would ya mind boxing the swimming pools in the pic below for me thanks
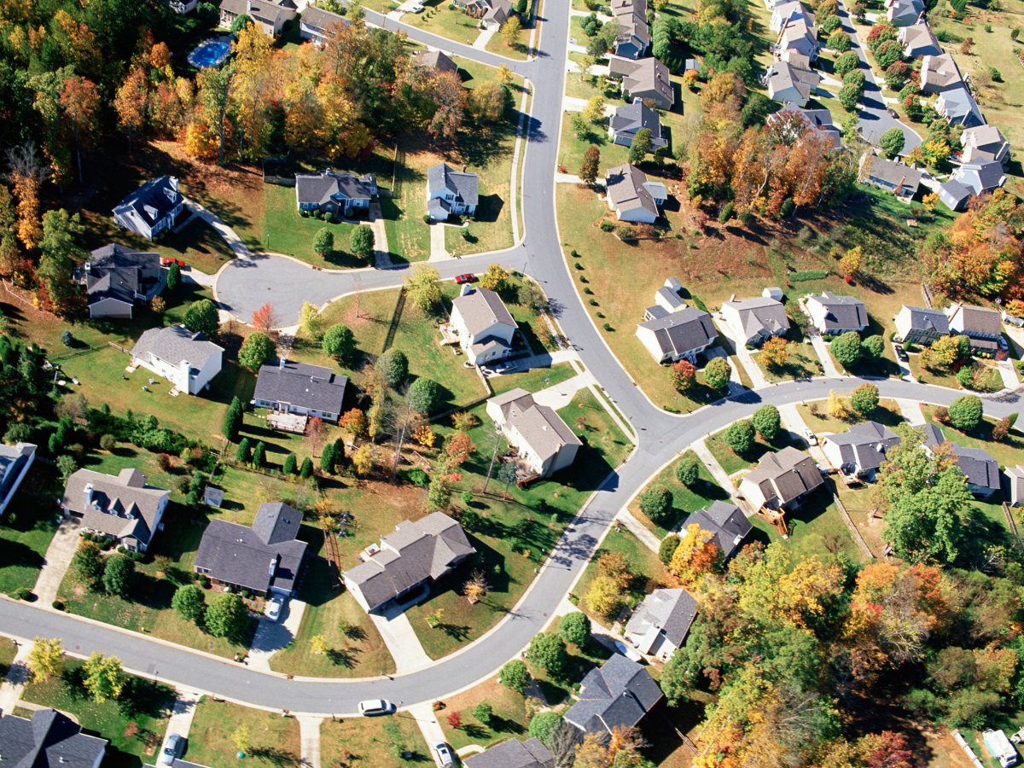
[187,35,234,67]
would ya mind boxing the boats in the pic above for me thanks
[617,638,644,661]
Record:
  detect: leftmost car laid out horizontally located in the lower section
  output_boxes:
[359,698,392,713]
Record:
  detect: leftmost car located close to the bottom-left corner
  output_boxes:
[162,733,181,762]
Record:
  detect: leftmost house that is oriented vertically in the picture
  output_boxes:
[0,438,37,521]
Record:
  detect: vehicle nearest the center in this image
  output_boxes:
[492,360,514,373]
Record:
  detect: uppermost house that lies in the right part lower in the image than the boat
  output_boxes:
[569,652,664,744]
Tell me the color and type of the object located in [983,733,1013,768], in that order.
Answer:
white camper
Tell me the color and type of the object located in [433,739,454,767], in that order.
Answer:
white car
